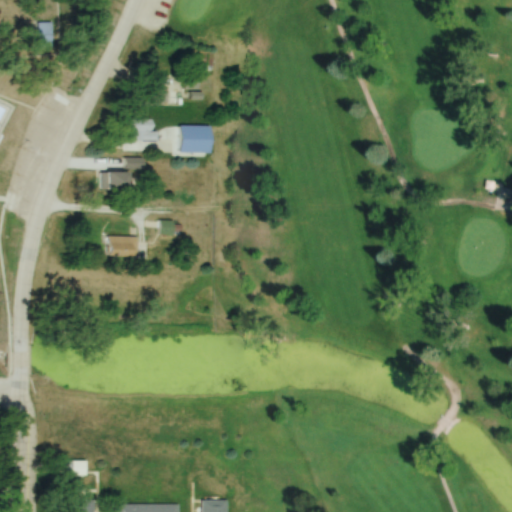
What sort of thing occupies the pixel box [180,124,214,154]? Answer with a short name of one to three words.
barn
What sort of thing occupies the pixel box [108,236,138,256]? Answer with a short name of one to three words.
house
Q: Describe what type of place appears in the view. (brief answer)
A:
golf course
